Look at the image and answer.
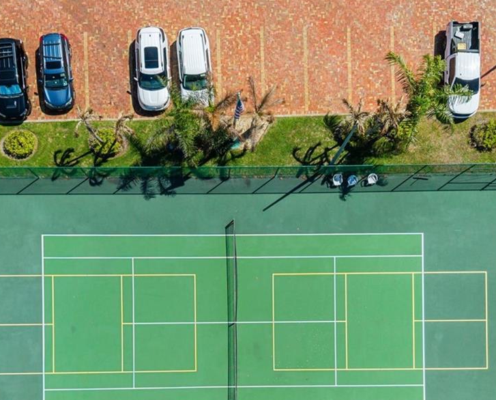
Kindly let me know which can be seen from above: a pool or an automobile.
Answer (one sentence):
This aerial view contains an automobile.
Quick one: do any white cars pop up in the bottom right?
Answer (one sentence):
No, looking in the bottom right, there is no white car.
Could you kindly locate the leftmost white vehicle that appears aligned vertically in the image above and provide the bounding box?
[133,29,173,112]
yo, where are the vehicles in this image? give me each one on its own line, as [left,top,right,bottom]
[36,34,75,110]
[176,30,215,112]
[0,41,30,119]
[133,29,173,112]
[443,22,484,118]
